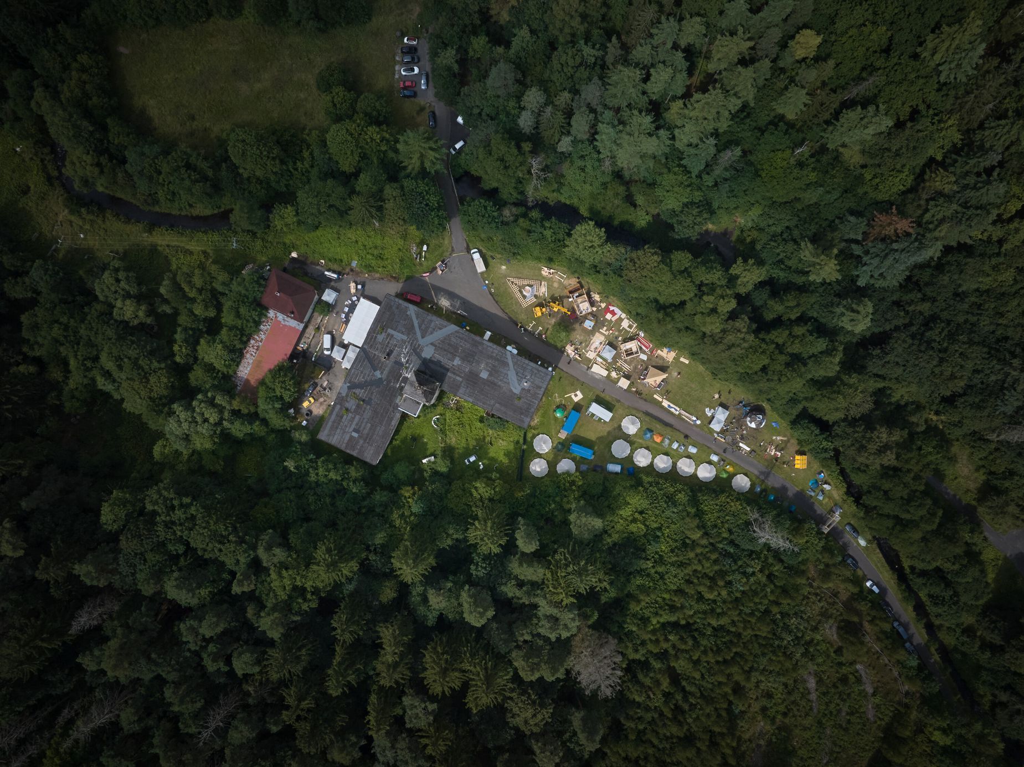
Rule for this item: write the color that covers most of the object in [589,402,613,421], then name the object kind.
white gazebo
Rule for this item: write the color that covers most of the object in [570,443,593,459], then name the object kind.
blue gazebo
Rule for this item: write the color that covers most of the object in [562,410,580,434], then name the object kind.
blue gazebo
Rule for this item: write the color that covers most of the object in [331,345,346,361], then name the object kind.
white gazebo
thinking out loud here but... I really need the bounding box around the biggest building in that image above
[317,293,553,465]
